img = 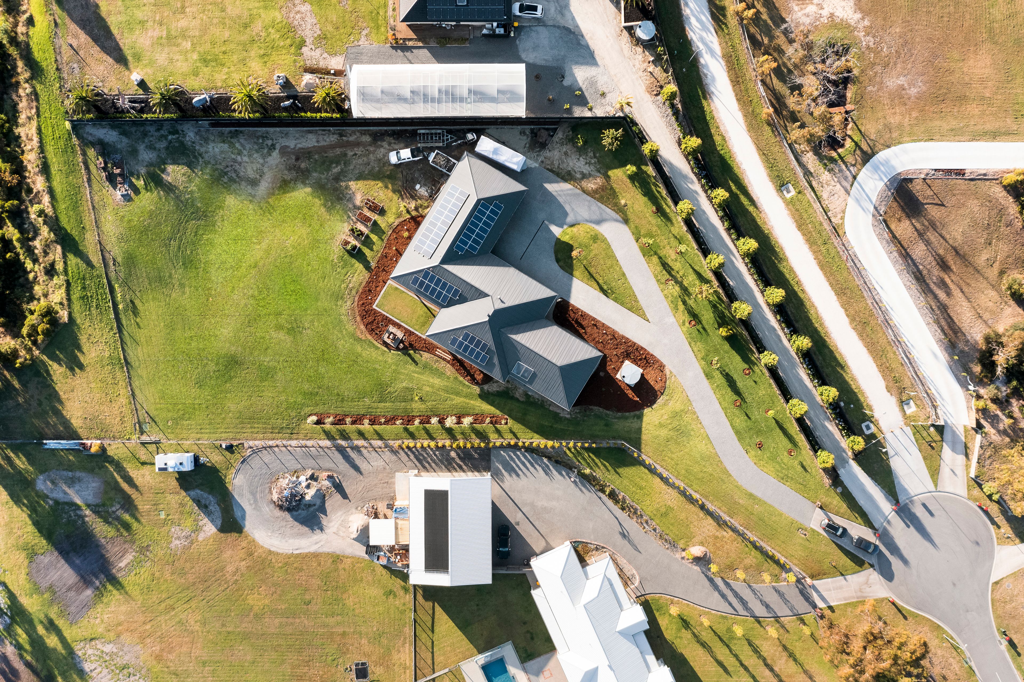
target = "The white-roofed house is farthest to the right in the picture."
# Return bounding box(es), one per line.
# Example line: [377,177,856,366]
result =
[530,539,677,682]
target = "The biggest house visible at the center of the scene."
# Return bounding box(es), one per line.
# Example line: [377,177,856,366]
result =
[390,151,604,411]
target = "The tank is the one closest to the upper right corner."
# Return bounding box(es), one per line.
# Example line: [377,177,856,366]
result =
[631,20,656,47]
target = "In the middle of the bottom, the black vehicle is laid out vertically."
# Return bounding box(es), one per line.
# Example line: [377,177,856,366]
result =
[496,524,512,559]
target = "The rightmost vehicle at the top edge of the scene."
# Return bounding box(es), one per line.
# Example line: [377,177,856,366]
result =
[513,1,544,19]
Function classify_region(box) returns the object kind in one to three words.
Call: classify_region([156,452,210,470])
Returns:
camper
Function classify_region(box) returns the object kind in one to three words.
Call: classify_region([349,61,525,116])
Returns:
greenhouse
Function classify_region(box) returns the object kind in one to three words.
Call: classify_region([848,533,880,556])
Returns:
car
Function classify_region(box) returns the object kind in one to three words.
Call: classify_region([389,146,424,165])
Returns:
vehicle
